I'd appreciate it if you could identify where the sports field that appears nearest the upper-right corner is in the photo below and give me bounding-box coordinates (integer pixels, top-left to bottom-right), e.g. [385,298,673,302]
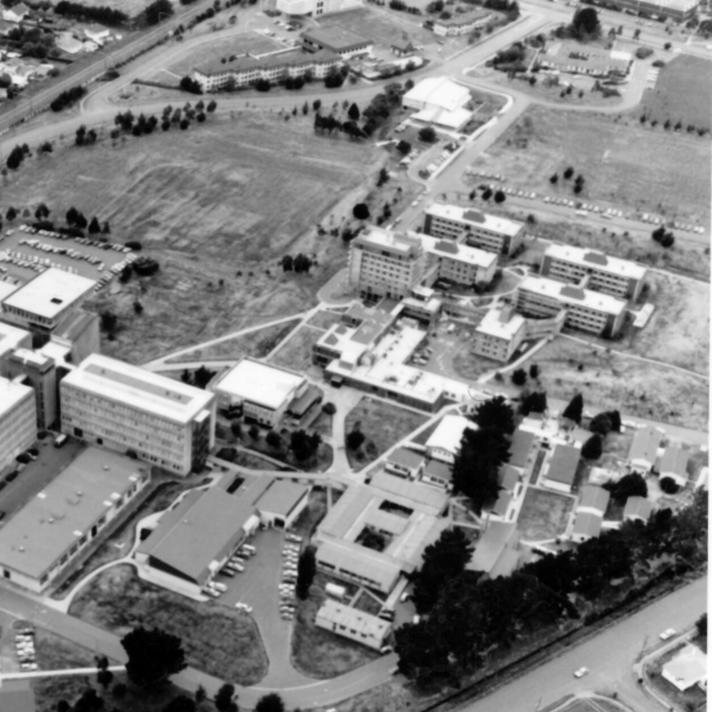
[640,54,712,135]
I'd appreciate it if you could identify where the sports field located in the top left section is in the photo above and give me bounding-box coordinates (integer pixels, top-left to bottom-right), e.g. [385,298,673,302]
[0,112,388,261]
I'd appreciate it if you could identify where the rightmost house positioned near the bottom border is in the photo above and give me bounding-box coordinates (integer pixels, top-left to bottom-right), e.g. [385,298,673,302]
[662,659,711,696]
